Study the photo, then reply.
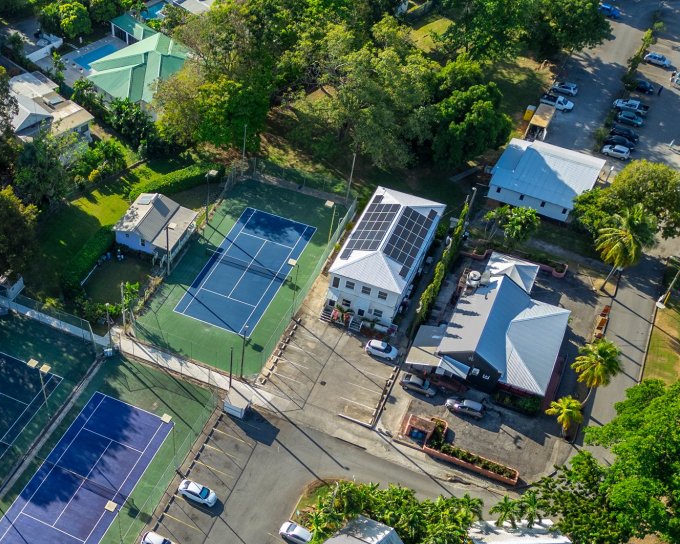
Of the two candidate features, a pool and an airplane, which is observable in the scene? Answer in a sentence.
It is a pool that can be seen here.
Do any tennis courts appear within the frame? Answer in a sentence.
Yes, the picture does show a tennis court.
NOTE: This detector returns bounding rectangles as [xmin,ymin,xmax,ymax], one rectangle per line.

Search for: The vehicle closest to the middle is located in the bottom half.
[365,338,400,361]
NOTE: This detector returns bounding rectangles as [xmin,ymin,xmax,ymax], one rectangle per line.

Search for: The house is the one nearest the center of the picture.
[323,186,446,325]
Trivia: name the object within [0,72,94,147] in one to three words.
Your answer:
house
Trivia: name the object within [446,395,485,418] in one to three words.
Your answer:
car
